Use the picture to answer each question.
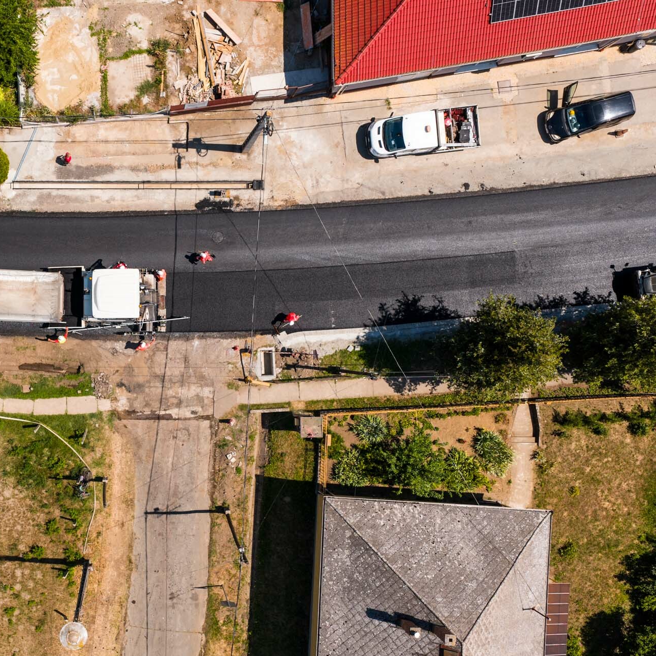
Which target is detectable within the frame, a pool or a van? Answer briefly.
van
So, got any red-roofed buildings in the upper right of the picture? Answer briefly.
Yes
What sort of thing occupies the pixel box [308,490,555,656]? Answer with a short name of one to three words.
house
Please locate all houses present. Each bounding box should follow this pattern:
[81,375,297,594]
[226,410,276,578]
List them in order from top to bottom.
[325,0,656,96]
[308,490,555,656]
